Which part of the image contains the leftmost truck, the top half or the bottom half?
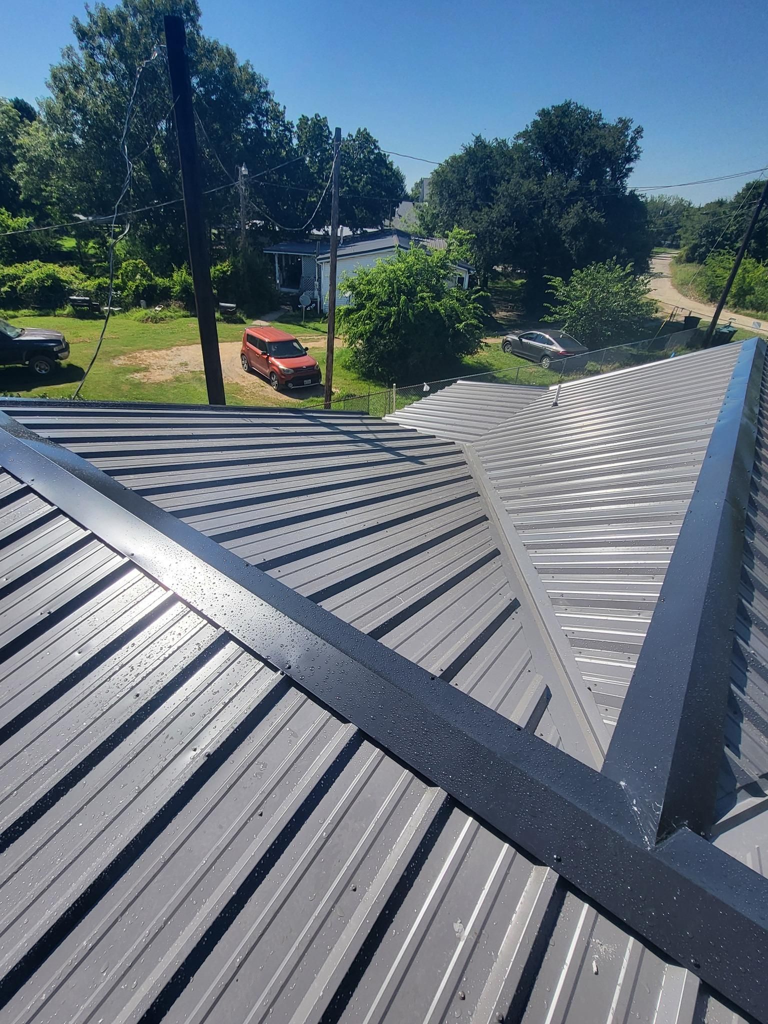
top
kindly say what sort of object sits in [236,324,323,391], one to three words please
car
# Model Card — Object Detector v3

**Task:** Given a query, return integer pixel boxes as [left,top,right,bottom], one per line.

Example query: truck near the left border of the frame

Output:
[0,315,75,374]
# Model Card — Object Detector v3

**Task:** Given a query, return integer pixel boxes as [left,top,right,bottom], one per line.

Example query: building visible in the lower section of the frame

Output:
[0,339,768,1024]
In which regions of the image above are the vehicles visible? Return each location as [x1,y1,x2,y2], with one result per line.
[0,315,75,374]
[236,324,323,391]
[503,330,590,369]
